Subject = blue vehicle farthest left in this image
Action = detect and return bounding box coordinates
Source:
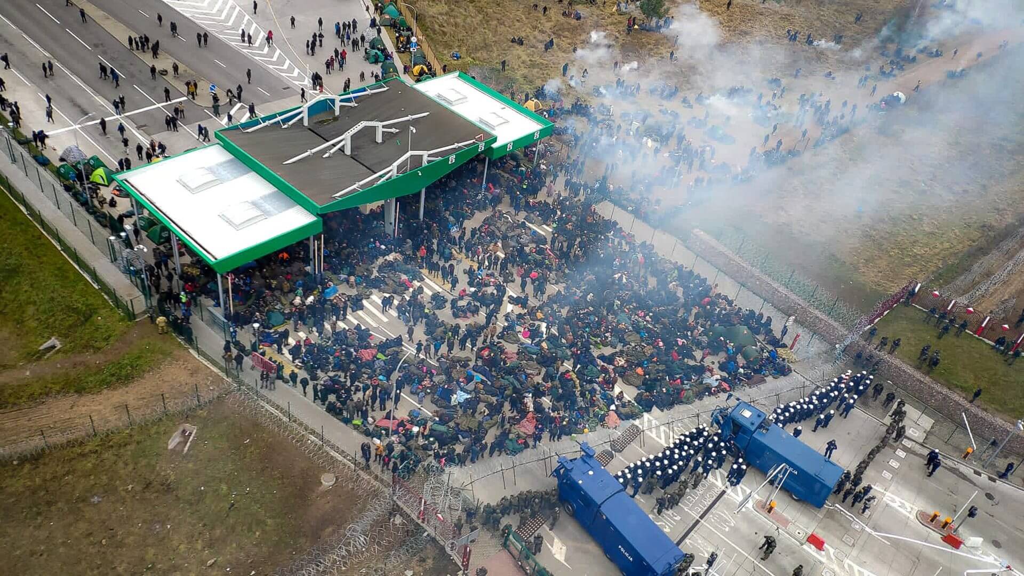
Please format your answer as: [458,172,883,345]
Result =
[549,447,685,576]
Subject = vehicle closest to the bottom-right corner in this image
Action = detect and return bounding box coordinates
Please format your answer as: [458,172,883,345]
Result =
[714,397,845,510]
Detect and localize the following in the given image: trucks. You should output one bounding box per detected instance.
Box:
[714,397,845,510]
[549,447,685,576]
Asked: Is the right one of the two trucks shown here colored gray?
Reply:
No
